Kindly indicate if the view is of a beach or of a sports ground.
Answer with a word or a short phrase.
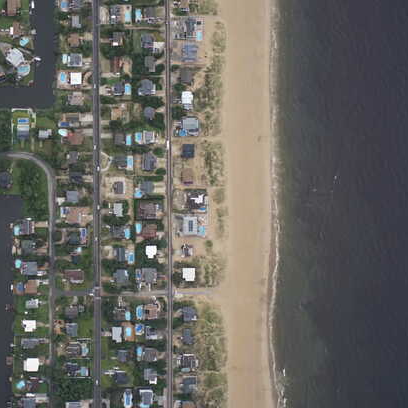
beach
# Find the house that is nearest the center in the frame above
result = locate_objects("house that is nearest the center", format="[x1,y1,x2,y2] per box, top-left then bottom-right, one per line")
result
[187,189,204,211]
